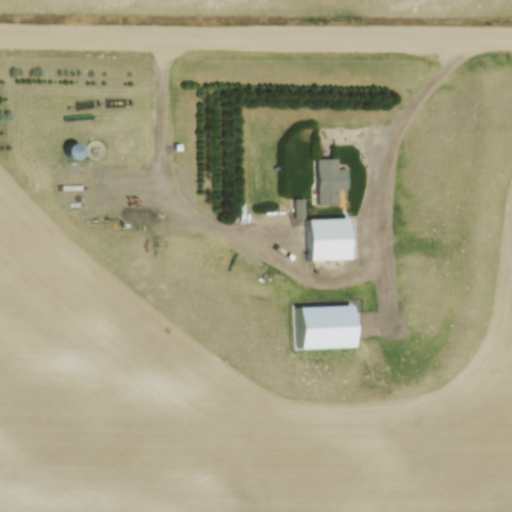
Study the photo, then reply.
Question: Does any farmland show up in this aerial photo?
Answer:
Yes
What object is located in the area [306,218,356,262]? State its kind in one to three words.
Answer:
shed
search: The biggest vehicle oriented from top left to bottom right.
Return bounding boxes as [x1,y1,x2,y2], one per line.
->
[273,244,290,256]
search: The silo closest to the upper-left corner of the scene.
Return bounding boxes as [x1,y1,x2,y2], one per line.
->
[64,142,88,162]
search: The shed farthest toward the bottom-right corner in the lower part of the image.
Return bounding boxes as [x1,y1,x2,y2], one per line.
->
[296,304,361,350]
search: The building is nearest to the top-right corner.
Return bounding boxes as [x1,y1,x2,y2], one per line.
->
[316,158,352,210]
